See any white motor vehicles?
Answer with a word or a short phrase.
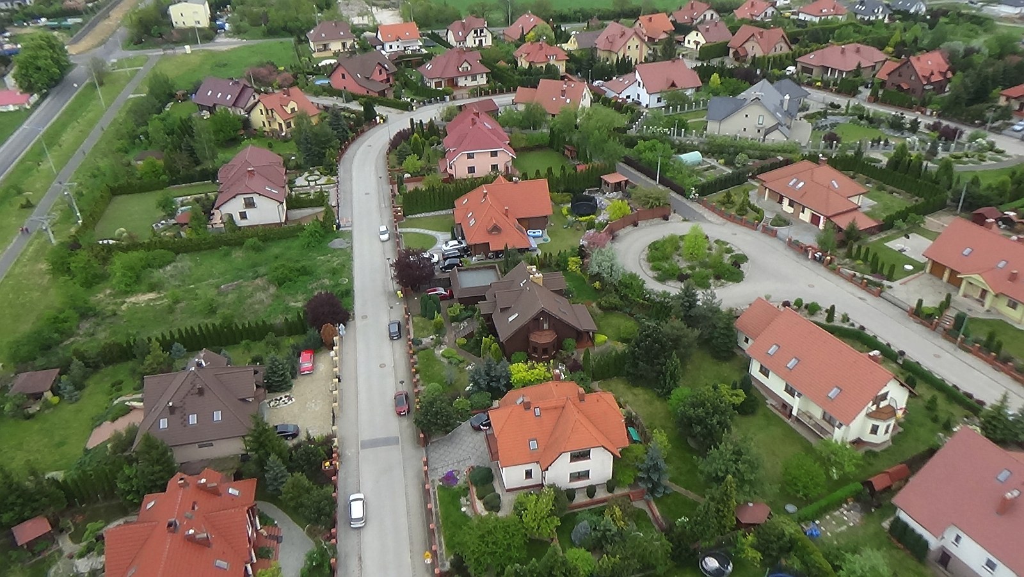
Yes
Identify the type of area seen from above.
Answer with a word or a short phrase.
residential area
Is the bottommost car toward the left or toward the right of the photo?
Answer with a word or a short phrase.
left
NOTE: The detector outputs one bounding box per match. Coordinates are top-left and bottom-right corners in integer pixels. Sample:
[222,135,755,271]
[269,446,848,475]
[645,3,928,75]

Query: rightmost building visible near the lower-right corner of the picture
[897,425,1024,577]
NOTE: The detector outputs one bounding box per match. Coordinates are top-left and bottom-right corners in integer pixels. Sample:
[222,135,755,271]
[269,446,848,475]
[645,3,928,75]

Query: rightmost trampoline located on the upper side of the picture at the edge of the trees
[570,195,598,214]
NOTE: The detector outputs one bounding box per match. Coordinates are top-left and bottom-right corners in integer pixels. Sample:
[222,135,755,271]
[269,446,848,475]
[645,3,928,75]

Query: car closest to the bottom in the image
[345,489,367,525]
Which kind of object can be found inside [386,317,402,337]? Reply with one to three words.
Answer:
car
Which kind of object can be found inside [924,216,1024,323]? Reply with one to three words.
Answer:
house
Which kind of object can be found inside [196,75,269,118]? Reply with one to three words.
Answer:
house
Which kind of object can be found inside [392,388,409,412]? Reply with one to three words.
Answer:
car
